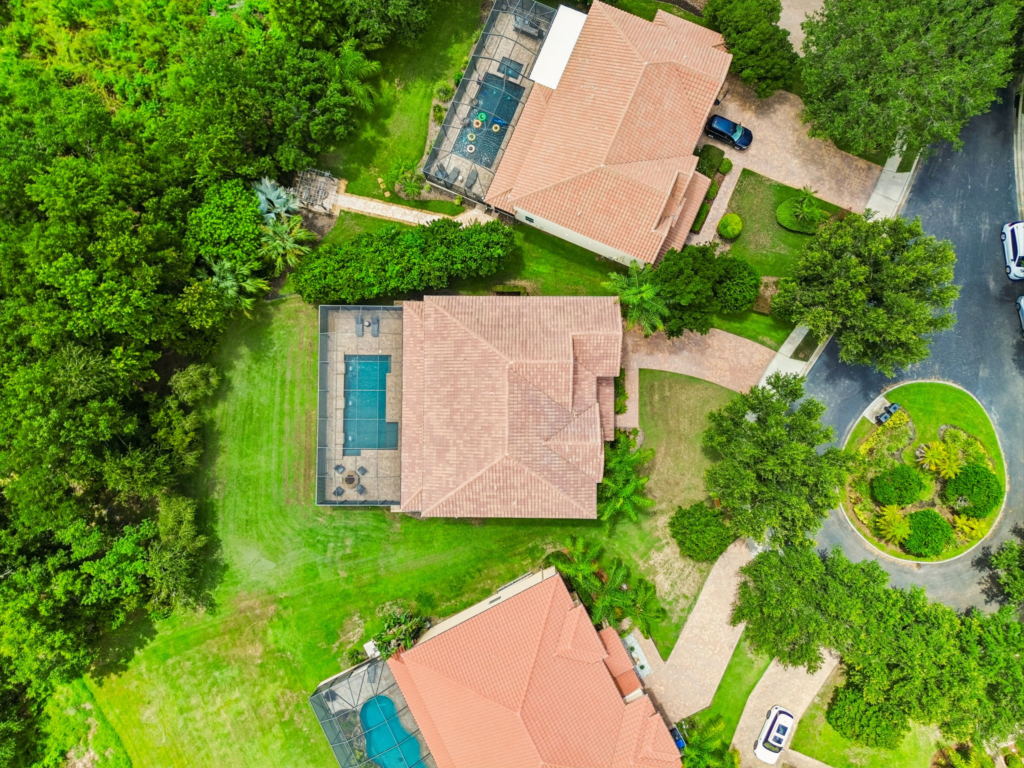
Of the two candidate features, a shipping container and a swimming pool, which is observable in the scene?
swimming pool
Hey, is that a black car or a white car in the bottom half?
white car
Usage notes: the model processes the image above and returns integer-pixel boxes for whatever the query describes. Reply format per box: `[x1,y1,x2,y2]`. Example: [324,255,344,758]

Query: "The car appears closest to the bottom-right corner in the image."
[751,701,788,757]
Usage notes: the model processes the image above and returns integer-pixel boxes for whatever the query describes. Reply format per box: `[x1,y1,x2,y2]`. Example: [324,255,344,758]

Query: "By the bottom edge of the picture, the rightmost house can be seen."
[386,568,684,768]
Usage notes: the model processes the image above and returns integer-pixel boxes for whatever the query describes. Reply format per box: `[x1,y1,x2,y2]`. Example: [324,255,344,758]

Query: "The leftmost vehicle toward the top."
[706,113,755,149]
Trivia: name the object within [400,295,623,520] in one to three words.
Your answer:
house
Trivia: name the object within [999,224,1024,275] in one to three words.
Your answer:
car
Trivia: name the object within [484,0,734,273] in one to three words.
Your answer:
house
